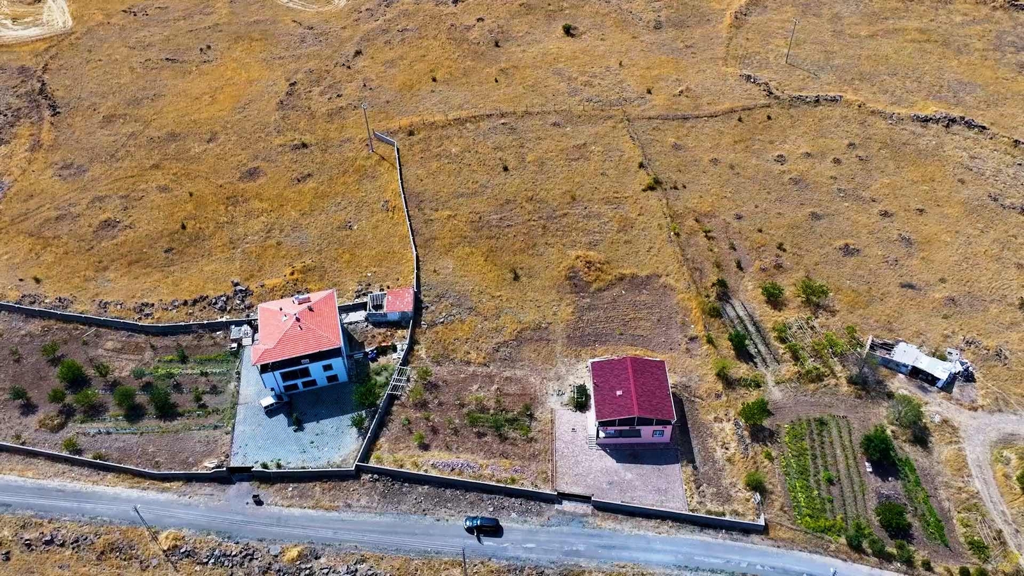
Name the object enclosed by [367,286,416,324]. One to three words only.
shed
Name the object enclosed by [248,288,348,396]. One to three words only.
house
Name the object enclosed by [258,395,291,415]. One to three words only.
vehicle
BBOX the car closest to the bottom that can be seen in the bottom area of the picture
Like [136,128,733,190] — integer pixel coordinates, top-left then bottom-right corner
[462,517,501,544]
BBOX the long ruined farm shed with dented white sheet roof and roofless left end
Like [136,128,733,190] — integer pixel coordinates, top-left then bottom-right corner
[862,338,966,392]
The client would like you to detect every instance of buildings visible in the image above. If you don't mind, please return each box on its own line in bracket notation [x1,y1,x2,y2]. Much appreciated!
[585,355,678,450]
[248,288,348,396]
[367,286,416,324]
[862,338,966,392]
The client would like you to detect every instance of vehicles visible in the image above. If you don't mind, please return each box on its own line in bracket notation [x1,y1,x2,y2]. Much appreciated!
[462,517,501,544]
[258,395,291,415]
